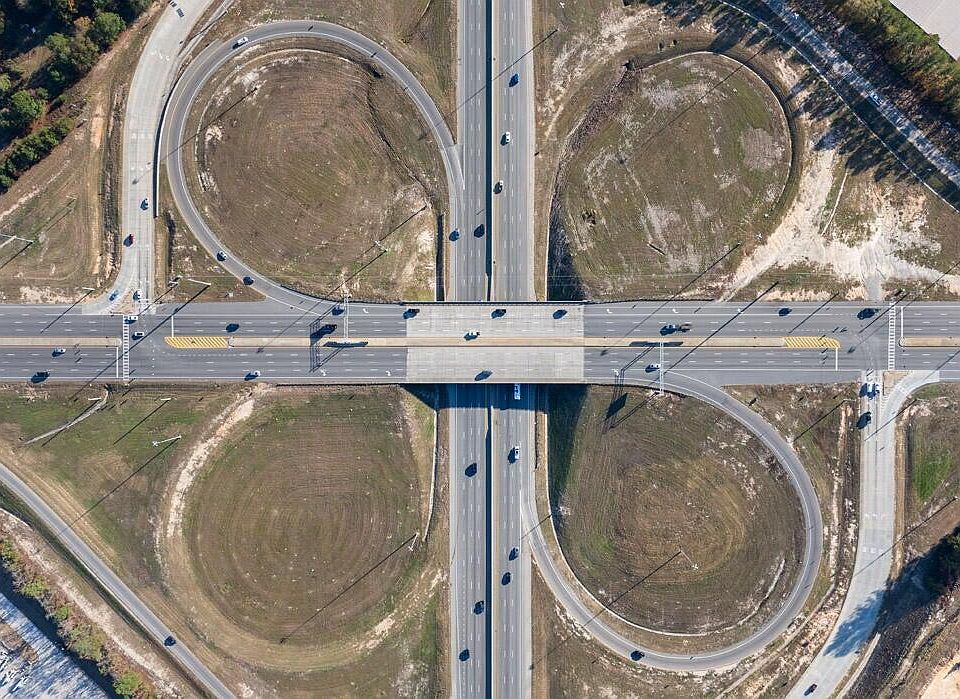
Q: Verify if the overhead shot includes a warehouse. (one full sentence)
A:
No, no warehouse is visible in the view.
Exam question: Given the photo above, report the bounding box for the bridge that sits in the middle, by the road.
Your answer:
[403,301,587,384]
